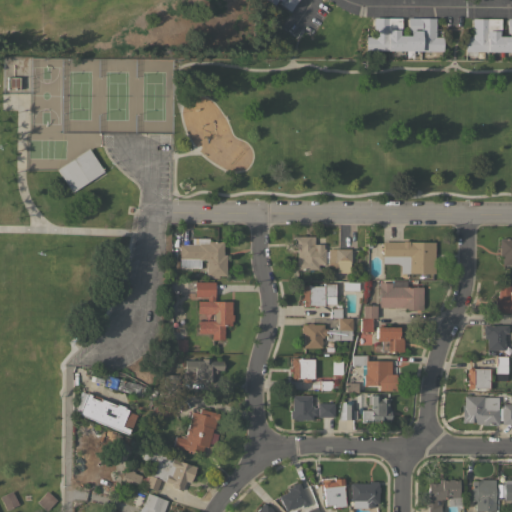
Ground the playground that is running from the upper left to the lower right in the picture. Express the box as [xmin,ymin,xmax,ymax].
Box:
[184,99,254,171]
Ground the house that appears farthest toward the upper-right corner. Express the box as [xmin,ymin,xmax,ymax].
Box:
[468,18,512,52]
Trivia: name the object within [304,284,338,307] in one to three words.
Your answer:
house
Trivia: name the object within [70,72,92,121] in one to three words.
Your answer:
tennis court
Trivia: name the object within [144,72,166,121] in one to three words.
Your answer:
tennis court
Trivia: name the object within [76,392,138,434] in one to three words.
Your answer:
building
